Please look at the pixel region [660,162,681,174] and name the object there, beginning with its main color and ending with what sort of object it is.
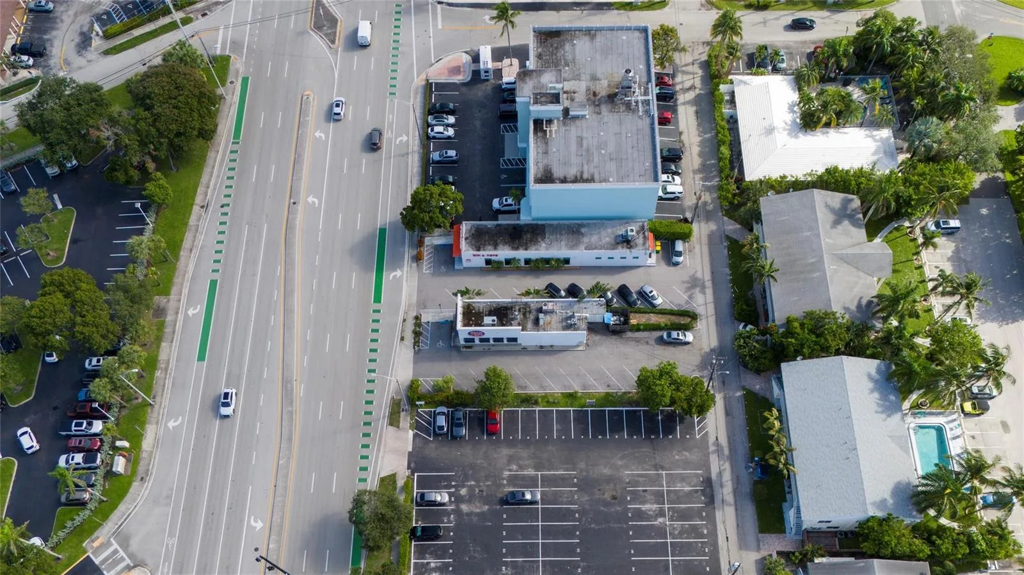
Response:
gray vehicle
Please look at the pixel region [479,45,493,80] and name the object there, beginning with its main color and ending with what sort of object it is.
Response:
white vehicle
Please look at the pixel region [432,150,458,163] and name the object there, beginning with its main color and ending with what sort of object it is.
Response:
blue vehicle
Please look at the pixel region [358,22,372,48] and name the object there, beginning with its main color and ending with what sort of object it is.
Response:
white vehicle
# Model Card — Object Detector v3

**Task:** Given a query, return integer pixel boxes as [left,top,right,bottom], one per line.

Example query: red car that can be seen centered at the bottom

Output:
[486,407,499,435]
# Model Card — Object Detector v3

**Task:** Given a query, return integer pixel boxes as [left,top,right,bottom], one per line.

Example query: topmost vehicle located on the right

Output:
[790,18,816,30]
